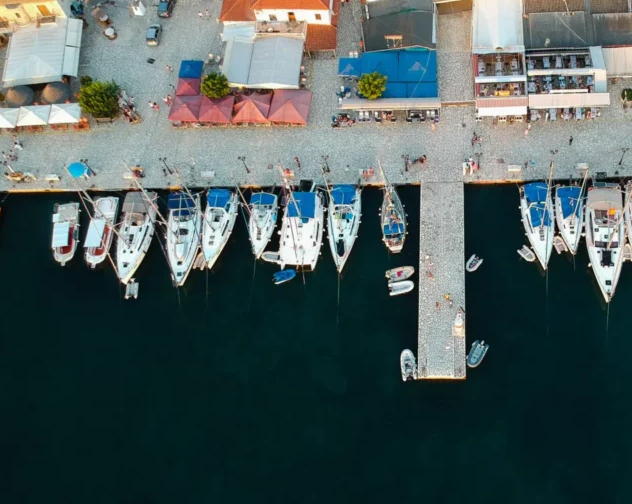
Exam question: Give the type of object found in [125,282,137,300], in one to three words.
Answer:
boat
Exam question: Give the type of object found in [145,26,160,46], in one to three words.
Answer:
car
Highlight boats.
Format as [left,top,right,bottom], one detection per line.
[125,282,137,300]
[467,338,493,368]
[275,159,324,289]
[624,242,632,262]
[555,236,570,256]
[236,178,280,268]
[321,161,365,275]
[386,281,414,296]
[193,250,205,271]
[401,350,417,383]
[467,253,483,271]
[71,164,163,295]
[378,165,406,258]
[585,167,632,307]
[272,270,296,285]
[520,156,559,272]
[129,161,204,288]
[51,192,83,268]
[384,266,414,281]
[555,169,589,257]
[517,243,536,261]
[173,164,239,272]
[84,190,122,271]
